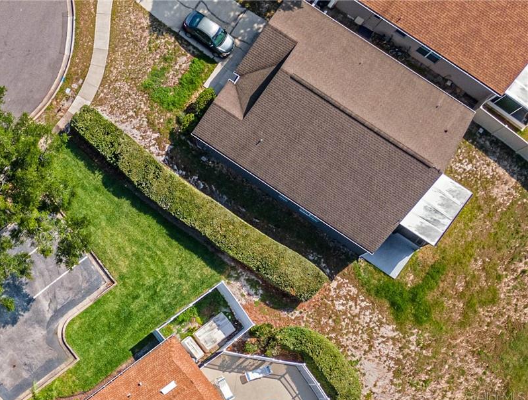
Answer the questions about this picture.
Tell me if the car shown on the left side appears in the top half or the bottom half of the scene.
top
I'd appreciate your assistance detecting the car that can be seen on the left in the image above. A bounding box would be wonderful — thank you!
[181,7,236,61]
